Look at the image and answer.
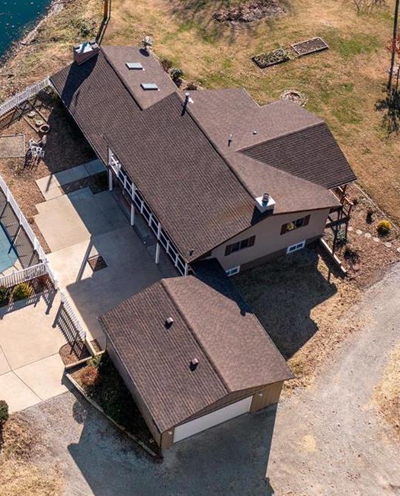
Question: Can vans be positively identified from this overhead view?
No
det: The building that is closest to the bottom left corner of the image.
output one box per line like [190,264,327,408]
[99,260,298,447]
